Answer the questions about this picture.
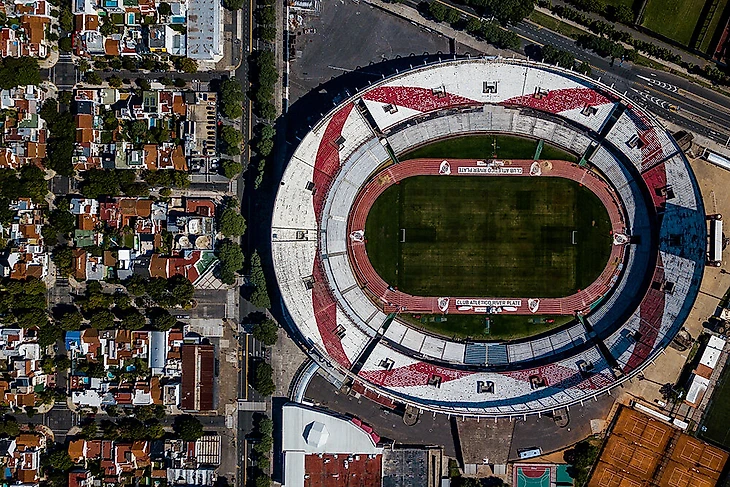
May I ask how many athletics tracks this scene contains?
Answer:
1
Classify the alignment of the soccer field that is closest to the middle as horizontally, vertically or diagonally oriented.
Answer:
horizontally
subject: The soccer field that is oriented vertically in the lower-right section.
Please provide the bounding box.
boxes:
[700,352,730,444]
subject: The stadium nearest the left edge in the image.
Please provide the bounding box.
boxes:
[271,52,706,422]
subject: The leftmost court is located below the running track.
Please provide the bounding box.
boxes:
[513,464,556,487]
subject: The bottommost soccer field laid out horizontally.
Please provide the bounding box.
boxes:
[366,177,612,297]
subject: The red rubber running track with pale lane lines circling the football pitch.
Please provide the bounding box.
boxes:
[350,160,627,314]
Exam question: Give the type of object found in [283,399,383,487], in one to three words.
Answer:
building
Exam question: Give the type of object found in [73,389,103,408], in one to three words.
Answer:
house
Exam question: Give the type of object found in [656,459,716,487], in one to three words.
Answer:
tennis court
